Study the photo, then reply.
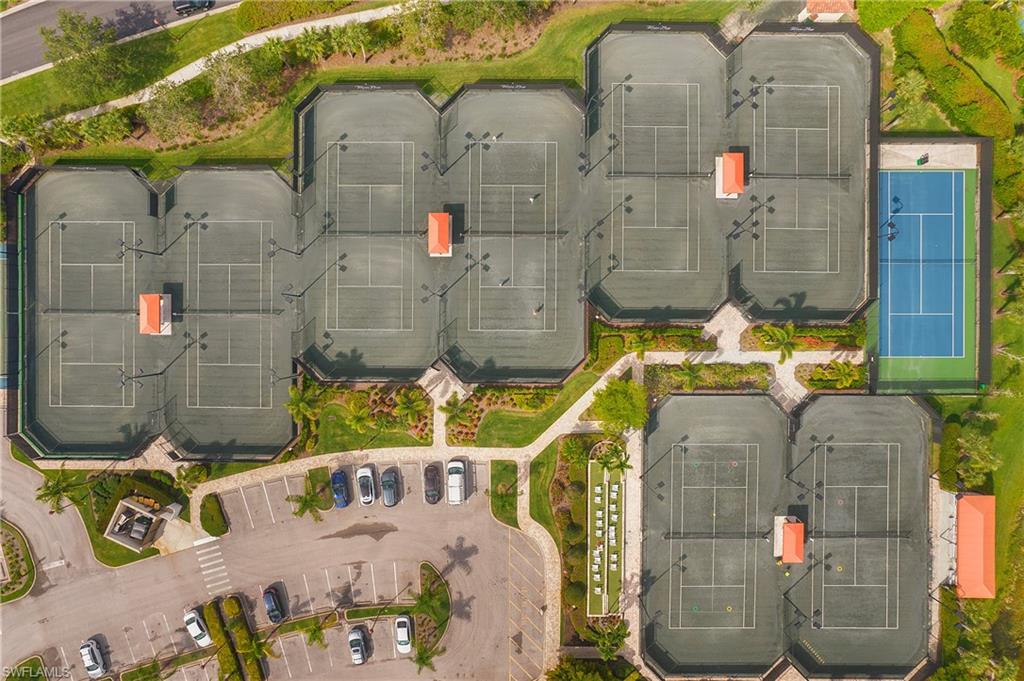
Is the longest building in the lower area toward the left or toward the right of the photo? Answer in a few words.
right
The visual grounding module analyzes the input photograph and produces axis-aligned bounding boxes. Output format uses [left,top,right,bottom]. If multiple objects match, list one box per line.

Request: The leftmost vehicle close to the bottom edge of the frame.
[78,639,105,677]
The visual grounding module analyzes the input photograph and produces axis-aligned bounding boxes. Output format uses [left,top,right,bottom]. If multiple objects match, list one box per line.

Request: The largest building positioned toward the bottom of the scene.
[942,490,995,598]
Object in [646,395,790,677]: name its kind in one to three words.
tennis court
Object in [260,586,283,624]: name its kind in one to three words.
car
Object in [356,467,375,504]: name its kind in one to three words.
car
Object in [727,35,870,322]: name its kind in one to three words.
tennis court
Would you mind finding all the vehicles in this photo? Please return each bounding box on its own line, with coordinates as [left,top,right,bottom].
[379,468,398,506]
[330,469,349,508]
[176,0,213,15]
[356,467,375,504]
[78,639,105,677]
[260,586,283,624]
[395,616,413,653]
[182,610,209,647]
[447,461,465,505]
[348,627,367,666]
